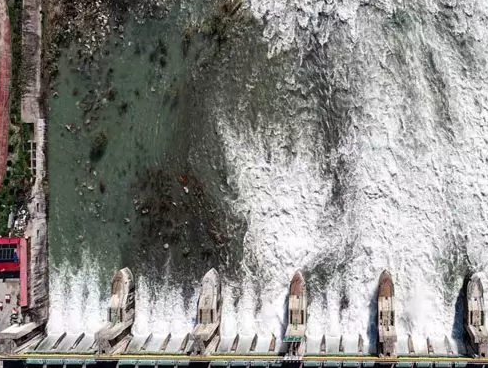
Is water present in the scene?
Yes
